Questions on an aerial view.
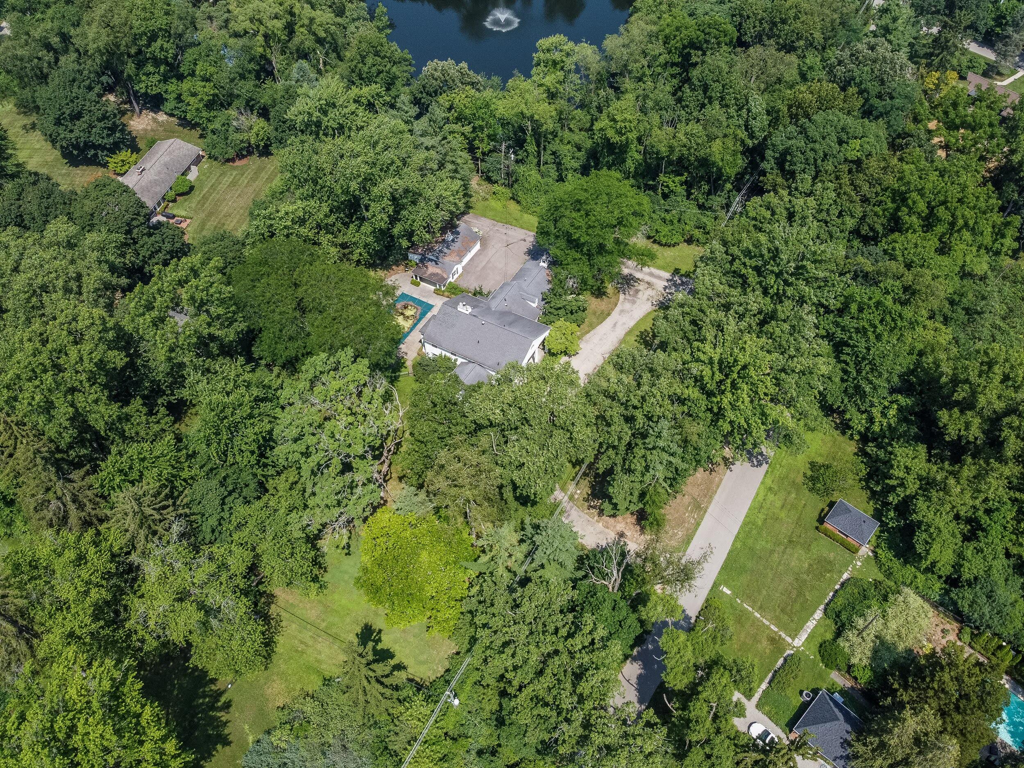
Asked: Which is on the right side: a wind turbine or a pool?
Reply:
pool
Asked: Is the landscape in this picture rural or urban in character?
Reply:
rural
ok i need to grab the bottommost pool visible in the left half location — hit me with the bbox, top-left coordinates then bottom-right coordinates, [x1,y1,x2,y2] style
[368,292,434,346]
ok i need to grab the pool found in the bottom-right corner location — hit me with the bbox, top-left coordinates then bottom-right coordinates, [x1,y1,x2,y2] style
[982,684,1024,753]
